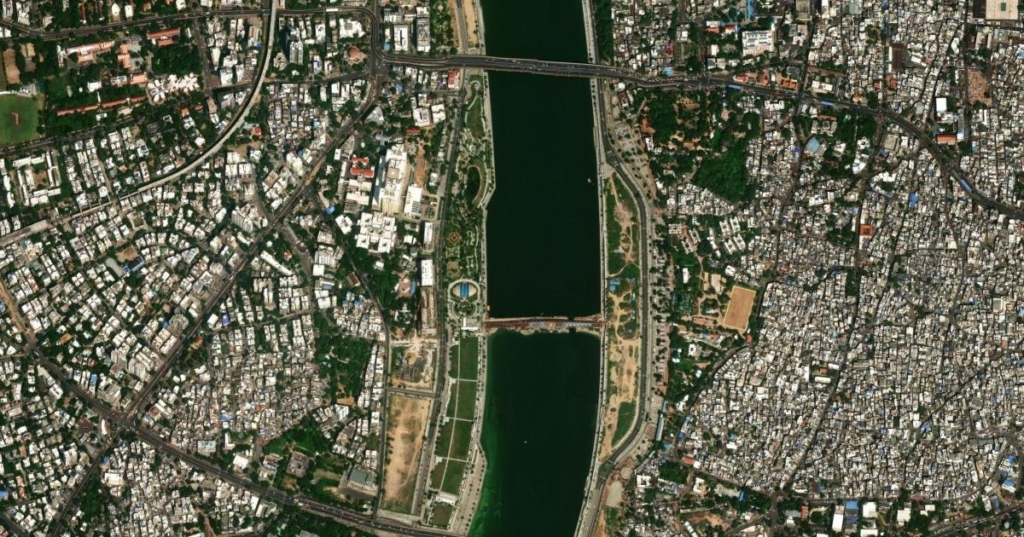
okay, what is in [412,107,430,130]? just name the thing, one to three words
building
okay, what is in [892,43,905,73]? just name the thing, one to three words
building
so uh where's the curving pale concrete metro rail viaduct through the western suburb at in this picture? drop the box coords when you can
[48,0,277,227]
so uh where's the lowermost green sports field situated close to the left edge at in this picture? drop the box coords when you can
[0,95,38,144]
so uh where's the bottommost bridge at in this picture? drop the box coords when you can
[287,498,495,537]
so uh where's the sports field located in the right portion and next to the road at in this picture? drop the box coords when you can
[723,285,756,332]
